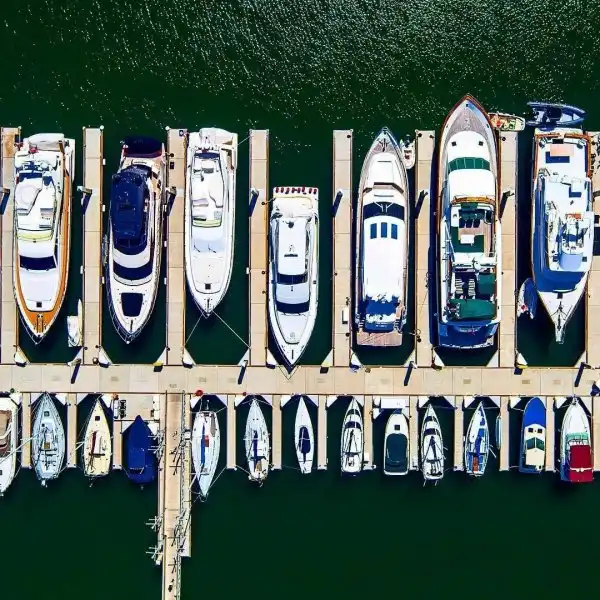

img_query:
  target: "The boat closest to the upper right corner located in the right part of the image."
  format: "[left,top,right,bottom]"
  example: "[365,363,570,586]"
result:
[528,101,587,127]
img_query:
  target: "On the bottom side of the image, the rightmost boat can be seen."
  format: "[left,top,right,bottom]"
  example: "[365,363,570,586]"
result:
[555,395,594,483]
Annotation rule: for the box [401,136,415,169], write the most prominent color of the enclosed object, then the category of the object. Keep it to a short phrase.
white boat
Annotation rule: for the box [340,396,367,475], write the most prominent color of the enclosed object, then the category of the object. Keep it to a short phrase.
white boat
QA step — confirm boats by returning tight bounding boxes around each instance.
[432,91,502,348]
[183,398,227,501]
[237,400,273,485]
[265,186,319,376]
[518,281,540,323]
[463,401,504,476]
[183,127,253,347]
[555,395,594,483]
[0,394,24,497]
[510,397,547,473]
[489,111,526,129]
[401,136,415,169]
[105,135,171,344]
[122,415,158,484]
[281,396,318,474]
[528,101,587,127]
[12,134,84,343]
[340,396,367,475]
[62,395,114,477]
[384,408,410,475]
[352,123,417,347]
[518,126,598,345]
[418,403,456,485]
[2,393,68,483]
